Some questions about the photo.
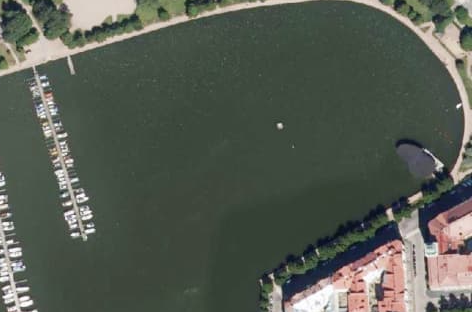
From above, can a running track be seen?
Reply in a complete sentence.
No, no running track can be seen from above.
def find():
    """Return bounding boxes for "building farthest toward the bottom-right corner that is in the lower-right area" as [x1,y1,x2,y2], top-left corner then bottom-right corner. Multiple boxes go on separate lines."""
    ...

[424,243,472,290]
